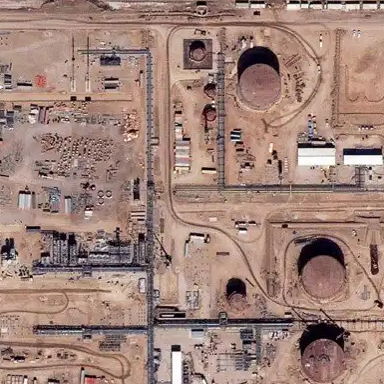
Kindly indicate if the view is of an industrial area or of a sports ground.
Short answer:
industrial area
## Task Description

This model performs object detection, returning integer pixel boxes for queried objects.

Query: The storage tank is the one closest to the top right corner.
[236,64,283,111]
